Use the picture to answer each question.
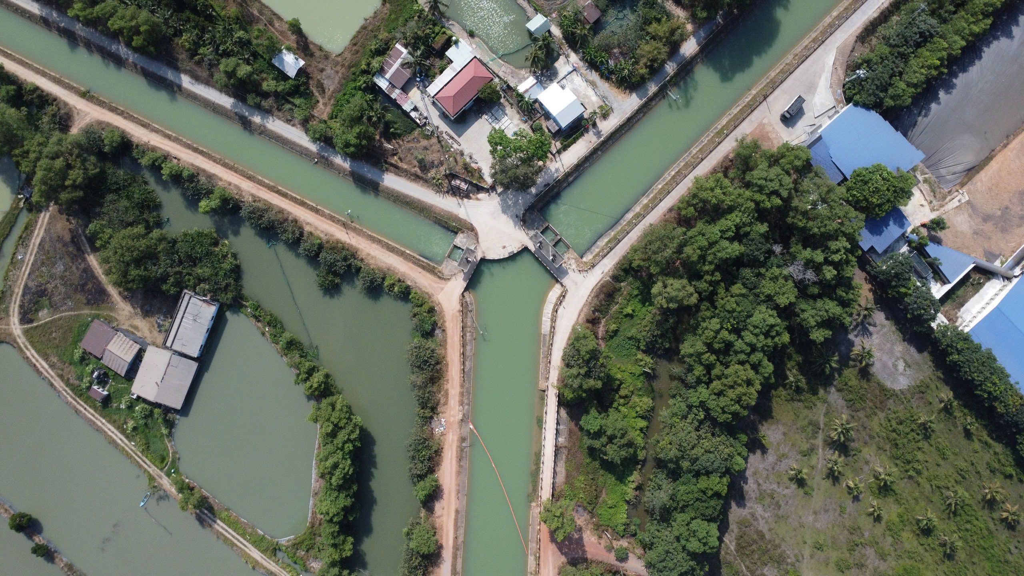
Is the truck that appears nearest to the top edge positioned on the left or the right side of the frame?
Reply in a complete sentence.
The truck that appears nearest to the top edge is on the right side of the image.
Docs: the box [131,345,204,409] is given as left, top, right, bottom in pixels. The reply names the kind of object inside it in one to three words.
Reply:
shed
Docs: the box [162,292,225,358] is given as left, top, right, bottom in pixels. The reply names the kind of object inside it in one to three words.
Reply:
building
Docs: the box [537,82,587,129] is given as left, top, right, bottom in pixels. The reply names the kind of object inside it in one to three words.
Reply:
house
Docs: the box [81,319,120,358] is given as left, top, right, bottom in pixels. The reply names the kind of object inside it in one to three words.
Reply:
shed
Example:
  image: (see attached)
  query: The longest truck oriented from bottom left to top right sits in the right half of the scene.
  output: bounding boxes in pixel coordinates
[779,90,811,122]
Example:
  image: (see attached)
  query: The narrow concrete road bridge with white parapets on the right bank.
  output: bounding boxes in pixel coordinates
[538,389,559,506]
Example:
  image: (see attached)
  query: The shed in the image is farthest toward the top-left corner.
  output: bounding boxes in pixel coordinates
[272,49,307,81]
